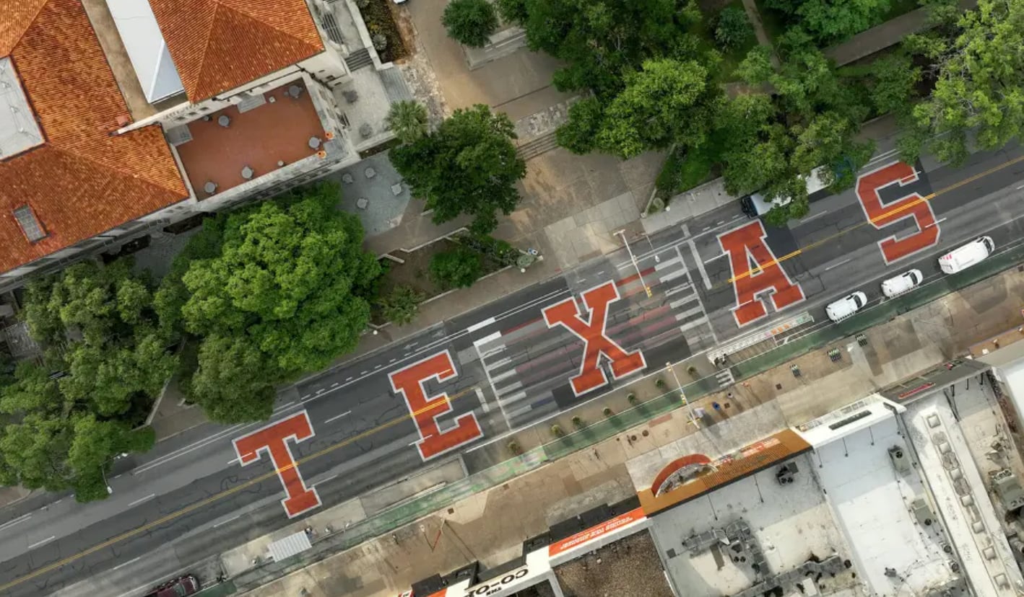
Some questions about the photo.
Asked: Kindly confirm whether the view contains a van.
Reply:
Yes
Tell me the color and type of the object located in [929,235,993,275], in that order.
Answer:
white van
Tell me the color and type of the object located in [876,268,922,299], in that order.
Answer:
white van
